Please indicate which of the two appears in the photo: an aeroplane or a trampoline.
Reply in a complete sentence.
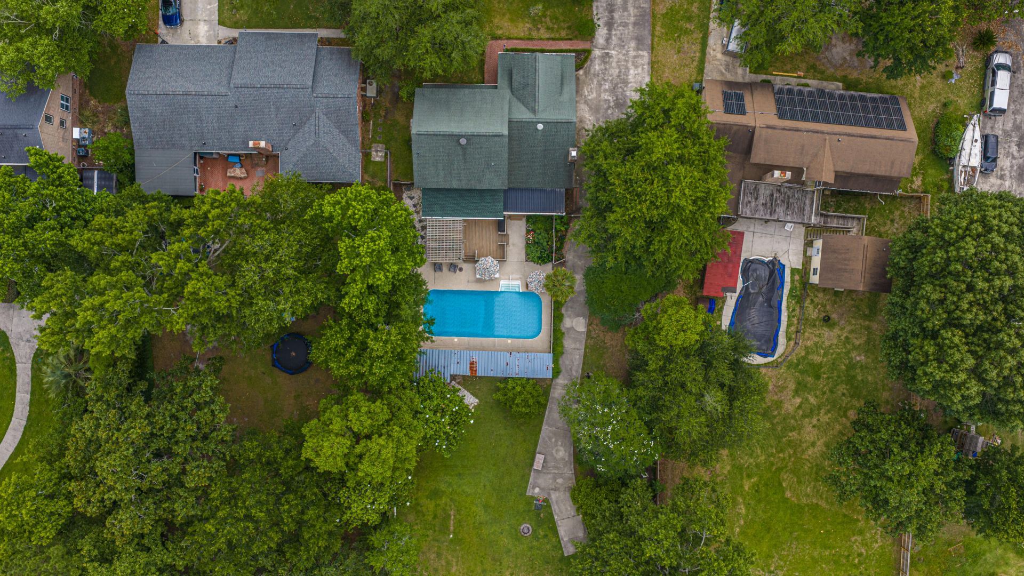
The one in the frame is a trampoline.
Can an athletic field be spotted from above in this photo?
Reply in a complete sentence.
No, the frame has no athletic field in it.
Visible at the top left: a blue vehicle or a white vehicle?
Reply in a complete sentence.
What appears at the top left is a blue vehicle.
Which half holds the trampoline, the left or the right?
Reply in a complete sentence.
The trampoline is on the left side of the image.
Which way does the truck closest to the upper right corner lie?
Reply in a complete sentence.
The truck closest to the upper right corner is laid out vertically.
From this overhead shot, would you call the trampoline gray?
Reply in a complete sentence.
No, the color of the trampoline is black.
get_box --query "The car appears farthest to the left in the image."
[155,0,181,26]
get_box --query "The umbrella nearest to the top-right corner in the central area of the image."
[525,271,547,292]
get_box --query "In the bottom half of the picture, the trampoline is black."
[272,334,311,373]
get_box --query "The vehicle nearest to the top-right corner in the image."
[987,48,1021,115]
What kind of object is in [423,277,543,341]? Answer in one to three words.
swimming pool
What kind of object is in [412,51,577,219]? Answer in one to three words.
house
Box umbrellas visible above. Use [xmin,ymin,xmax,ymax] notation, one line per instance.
[525,271,547,292]
[475,255,500,280]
